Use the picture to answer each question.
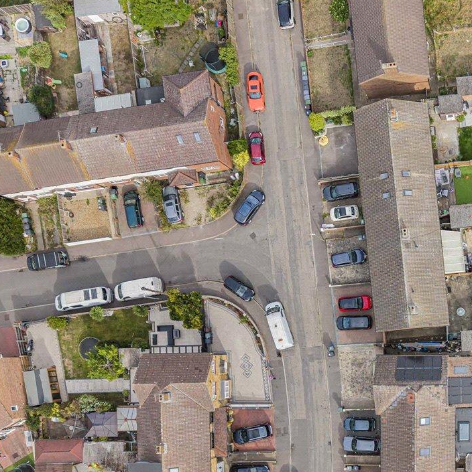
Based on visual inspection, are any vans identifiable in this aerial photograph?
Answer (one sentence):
Yes, the image includes a van.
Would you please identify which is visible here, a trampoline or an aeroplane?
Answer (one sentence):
The one in the frame is a trampoline.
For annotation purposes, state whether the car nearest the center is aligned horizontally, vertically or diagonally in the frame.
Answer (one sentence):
From this overhead view, the car nearest the center appears to run diagonally.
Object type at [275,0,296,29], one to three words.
car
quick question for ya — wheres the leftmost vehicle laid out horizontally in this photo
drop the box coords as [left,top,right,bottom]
[27,251,71,271]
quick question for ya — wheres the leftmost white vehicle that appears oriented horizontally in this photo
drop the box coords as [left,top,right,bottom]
[60,287,109,311]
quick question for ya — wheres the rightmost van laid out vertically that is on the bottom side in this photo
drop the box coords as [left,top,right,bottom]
[265,301,294,350]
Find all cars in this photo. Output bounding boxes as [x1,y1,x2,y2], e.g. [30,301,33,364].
[343,415,376,432]
[231,422,274,445]
[232,188,266,228]
[331,248,366,267]
[336,314,372,332]
[330,205,360,222]
[222,273,256,304]
[246,71,266,113]
[321,181,360,202]
[230,464,271,472]
[343,436,379,453]
[162,186,184,224]
[275,0,296,29]
[247,132,266,166]
[27,251,71,271]
[338,294,373,312]
[122,189,147,229]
